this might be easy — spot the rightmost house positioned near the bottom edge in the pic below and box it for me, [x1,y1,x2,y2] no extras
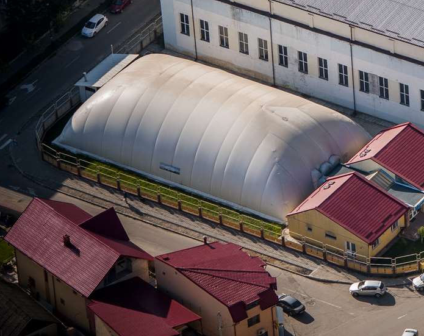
[155,235,279,336]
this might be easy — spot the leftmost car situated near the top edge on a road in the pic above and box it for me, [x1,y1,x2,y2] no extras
[85,14,105,36]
